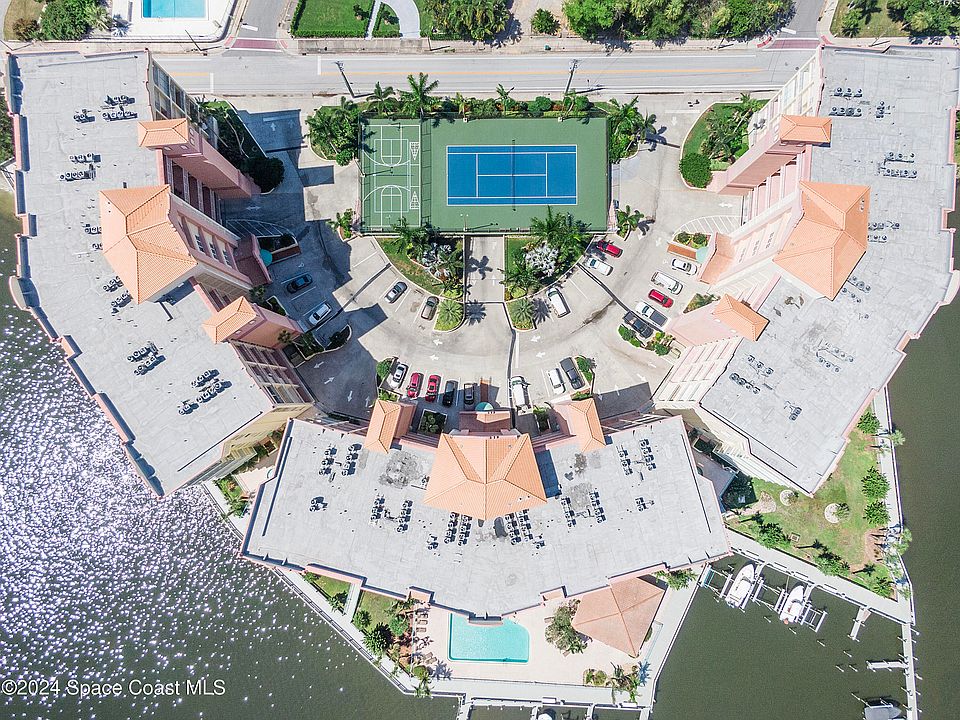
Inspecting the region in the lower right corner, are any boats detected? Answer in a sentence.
Yes, in the lower right corner there is a boat.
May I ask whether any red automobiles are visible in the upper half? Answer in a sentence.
Yes, in the upper half there is a red automobile.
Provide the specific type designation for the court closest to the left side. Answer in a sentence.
Looking closely, the court closest to the left side is a basketball court.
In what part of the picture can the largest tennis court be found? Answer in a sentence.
The largest tennis court appears toward the top of the photo.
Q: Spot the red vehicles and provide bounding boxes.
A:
[648,289,673,308]
[426,375,441,401]
[595,238,621,258]
[407,371,424,398]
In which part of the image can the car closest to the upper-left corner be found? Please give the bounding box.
[287,273,313,293]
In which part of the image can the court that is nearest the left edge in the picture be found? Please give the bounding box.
[361,114,421,231]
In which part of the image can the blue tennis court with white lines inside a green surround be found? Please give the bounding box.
[422,117,609,231]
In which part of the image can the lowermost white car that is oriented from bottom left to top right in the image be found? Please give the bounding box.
[387,362,409,388]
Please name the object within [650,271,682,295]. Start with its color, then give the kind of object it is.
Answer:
white vehicle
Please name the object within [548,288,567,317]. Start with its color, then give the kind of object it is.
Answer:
white vehicle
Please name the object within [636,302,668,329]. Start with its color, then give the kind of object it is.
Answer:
white truck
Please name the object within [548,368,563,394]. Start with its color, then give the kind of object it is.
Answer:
white car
